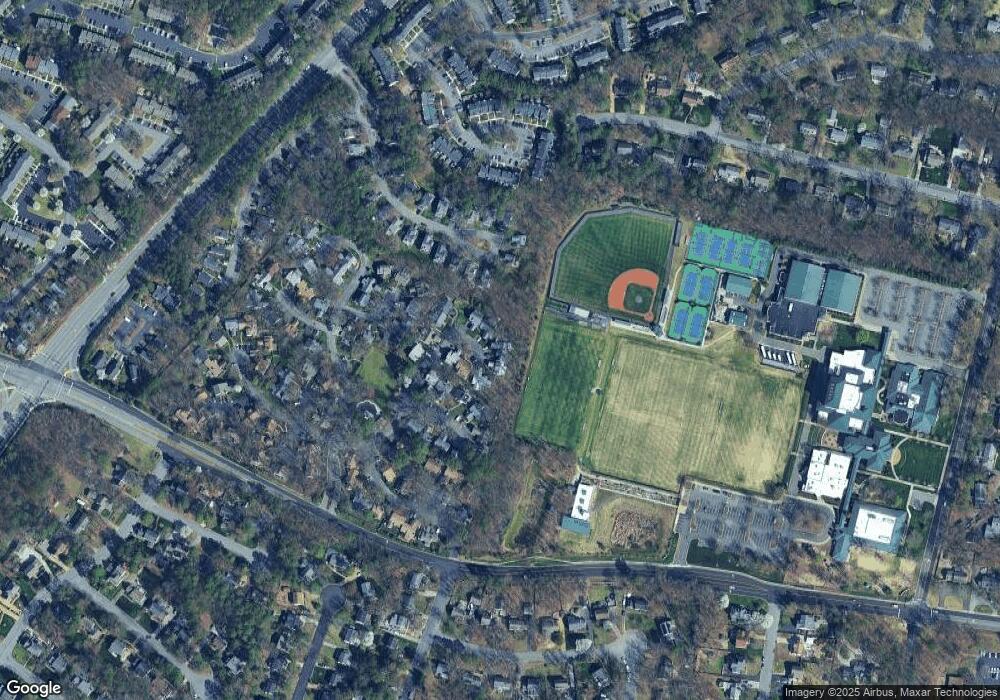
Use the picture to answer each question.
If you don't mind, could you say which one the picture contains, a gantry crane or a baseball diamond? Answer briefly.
baseball diamond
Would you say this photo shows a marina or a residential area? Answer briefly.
residential area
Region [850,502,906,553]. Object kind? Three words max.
building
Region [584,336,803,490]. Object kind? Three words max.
sports field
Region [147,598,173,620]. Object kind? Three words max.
house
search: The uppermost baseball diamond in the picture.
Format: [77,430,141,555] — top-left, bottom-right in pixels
[550,207,676,333]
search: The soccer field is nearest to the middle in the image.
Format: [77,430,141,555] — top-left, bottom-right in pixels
[516,317,606,448]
